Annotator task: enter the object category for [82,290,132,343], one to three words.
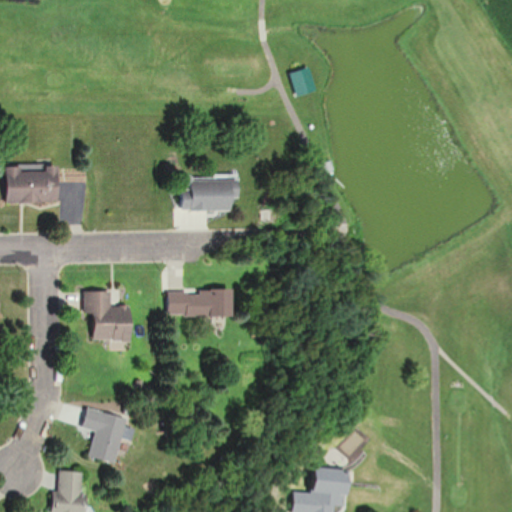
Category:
house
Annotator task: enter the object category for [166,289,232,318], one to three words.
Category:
house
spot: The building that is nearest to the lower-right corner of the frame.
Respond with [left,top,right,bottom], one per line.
[290,468,350,512]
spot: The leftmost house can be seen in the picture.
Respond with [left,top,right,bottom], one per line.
[6,164,59,205]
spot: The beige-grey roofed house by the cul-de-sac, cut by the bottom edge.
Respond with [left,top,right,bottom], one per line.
[52,471,88,512]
